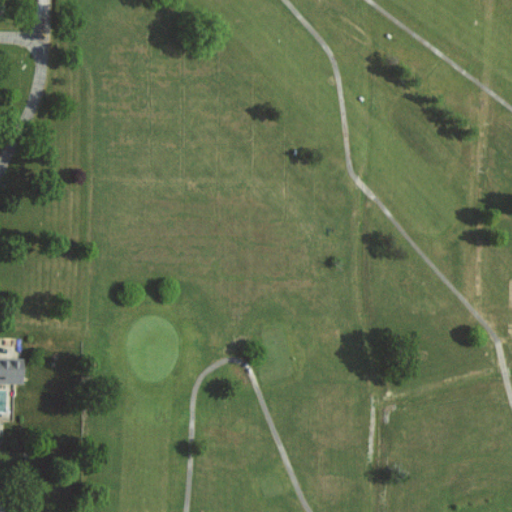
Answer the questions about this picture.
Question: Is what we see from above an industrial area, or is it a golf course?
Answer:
golf course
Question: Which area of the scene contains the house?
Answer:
bottom left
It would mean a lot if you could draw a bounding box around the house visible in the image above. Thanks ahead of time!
[0,358,28,386]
